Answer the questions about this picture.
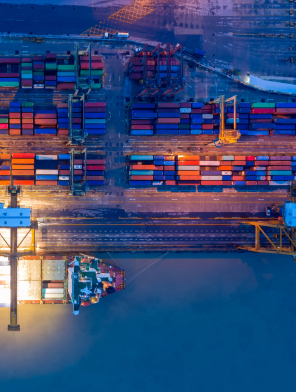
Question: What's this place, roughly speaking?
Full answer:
The area seen from above is a port.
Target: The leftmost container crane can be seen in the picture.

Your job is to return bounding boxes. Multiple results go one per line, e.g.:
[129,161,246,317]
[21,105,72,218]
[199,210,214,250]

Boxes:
[0,185,40,333]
